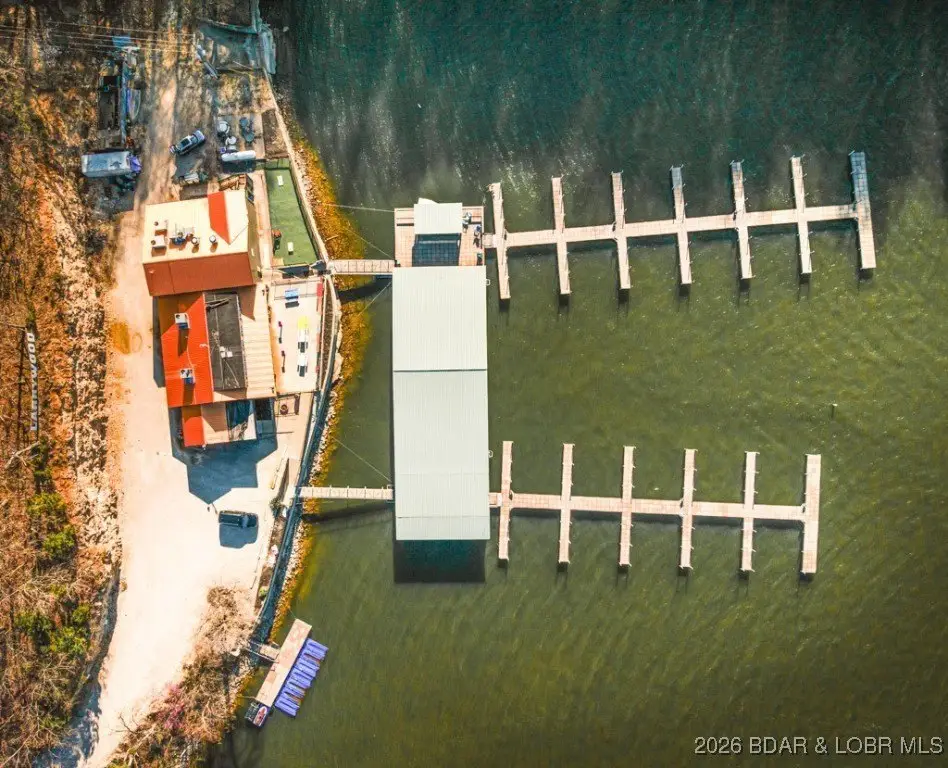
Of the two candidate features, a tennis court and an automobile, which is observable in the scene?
automobile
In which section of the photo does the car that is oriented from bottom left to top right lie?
top left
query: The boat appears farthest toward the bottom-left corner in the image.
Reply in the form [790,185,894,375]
[253,703,266,726]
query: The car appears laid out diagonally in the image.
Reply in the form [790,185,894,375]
[167,127,206,156]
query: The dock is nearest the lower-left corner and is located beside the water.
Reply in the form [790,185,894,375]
[255,618,314,708]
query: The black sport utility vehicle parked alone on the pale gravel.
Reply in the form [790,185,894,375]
[217,512,258,531]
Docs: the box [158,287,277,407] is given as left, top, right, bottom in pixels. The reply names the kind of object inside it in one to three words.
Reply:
building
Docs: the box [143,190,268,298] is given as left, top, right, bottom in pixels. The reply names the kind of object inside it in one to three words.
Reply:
building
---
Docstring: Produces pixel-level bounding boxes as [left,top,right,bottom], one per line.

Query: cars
[167,127,206,156]
[217,512,258,531]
